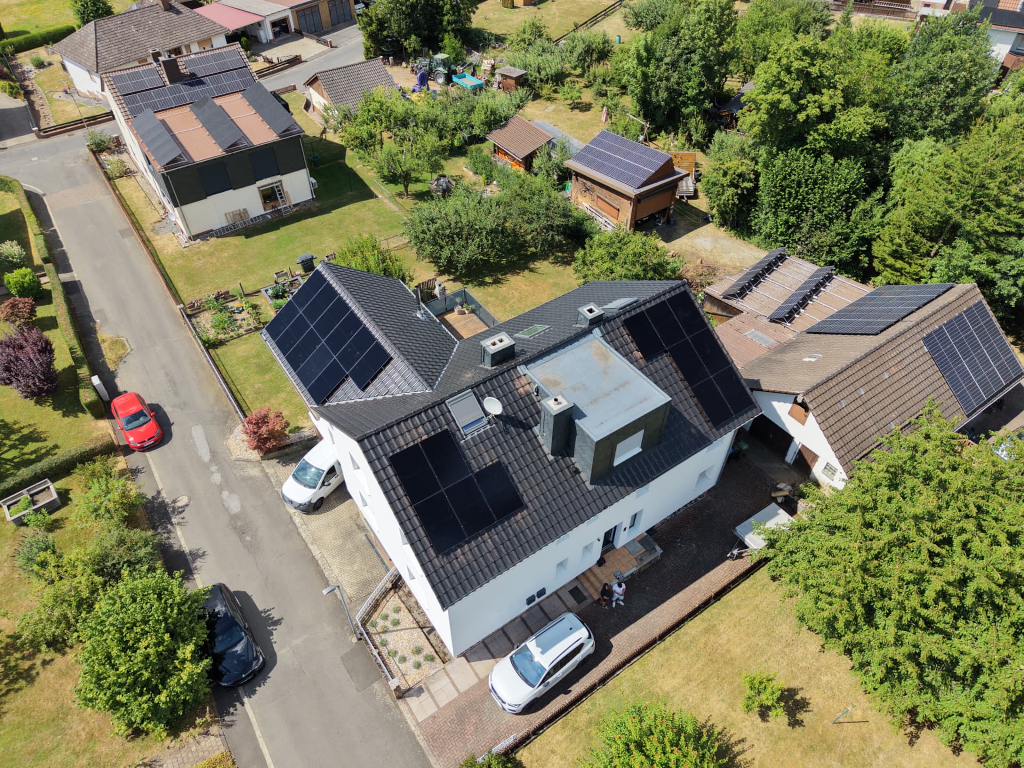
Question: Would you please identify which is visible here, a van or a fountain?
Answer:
van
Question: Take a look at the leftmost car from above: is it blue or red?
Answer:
red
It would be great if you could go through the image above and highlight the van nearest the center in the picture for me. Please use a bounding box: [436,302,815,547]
[275,417,341,510]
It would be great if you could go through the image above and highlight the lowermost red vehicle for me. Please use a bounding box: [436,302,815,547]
[110,389,165,456]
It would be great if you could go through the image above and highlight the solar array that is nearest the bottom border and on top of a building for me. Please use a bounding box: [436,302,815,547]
[389,430,525,555]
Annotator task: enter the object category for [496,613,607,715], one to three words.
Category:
car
